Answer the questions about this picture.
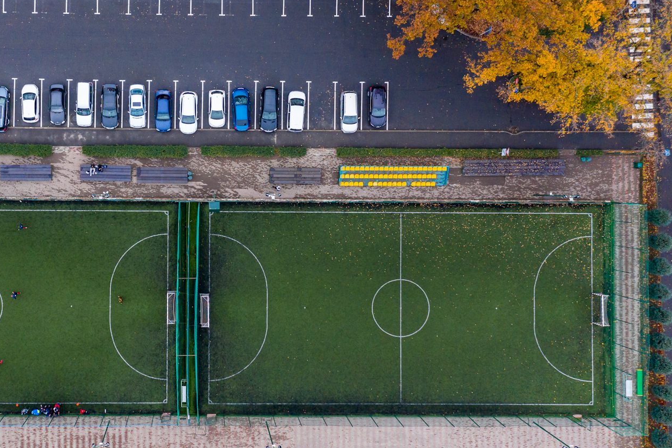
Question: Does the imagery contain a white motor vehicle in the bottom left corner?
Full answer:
No, in the bottom left corner there is no white motor vehicle.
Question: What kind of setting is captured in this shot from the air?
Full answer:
What you see here is a sports ground.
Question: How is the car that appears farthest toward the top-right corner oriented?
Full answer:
Seen from above, the car that appears farthest toward the top-right corner lies up and down.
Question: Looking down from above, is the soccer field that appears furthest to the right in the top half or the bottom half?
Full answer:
Seen from above, the soccer field that appears furthest to the right lies in the bottom half of the view.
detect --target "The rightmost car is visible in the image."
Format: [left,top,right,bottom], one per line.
[366,86,388,128]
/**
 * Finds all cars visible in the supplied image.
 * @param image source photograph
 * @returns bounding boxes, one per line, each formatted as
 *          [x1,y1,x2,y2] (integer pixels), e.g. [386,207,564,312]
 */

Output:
[286,91,308,133]
[366,86,388,128]
[153,90,174,133]
[339,91,361,134]
[99,84,121,130]
[230,88,253,132]
[127,84,148,129]
[259,87,281,133]
[206,90,227,128]
[19,84,41,123]
[0,86,12,133]
[177,91,199,134]
[46,84,67,126]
